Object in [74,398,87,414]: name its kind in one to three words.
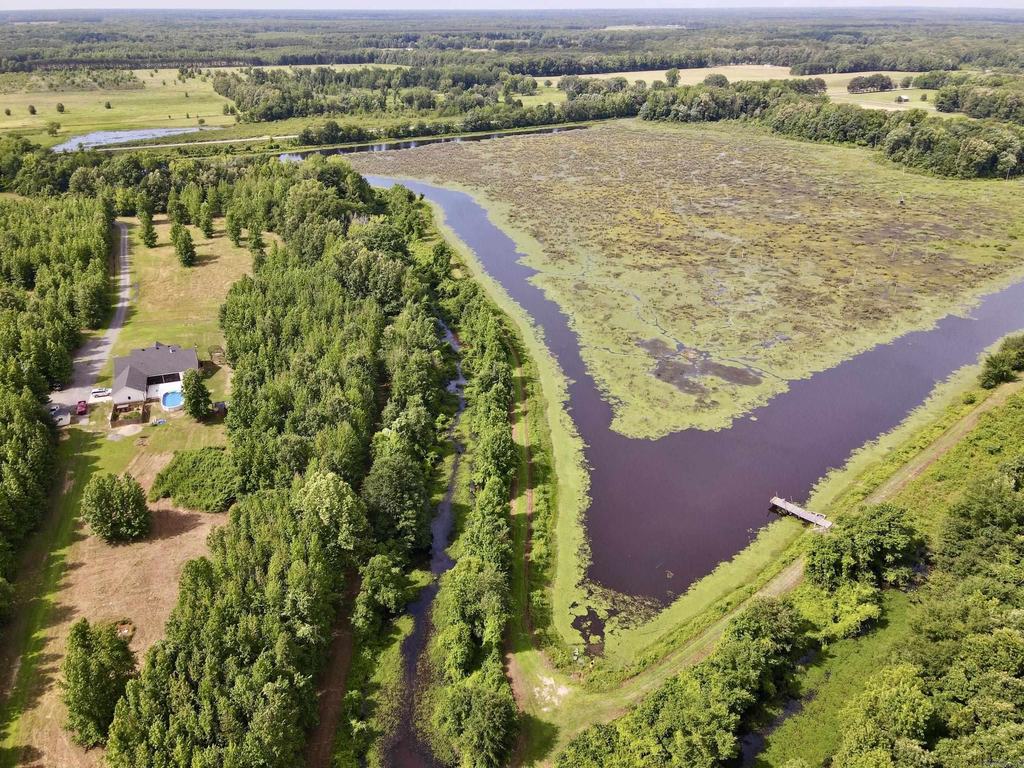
vehicle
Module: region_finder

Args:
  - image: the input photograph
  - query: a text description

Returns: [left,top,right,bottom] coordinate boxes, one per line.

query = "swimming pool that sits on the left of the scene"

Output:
[159,393,188,412]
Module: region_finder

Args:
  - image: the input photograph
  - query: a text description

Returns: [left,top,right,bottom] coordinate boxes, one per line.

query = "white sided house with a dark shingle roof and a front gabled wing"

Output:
[109,341,202,404]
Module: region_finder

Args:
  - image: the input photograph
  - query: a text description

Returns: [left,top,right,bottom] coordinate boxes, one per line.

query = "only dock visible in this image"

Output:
[769,495,827,526]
